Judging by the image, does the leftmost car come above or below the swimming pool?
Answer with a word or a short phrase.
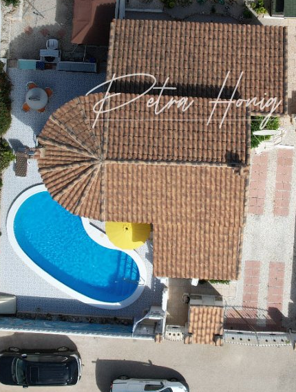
below it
